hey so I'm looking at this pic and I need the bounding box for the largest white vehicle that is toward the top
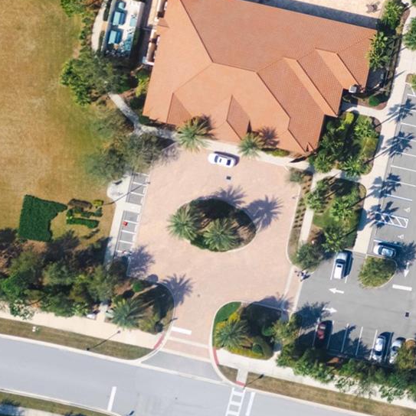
[207,153,235,169]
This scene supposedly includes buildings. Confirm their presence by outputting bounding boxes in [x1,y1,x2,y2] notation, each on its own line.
[142,0,378,158]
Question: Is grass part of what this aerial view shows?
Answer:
Yes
